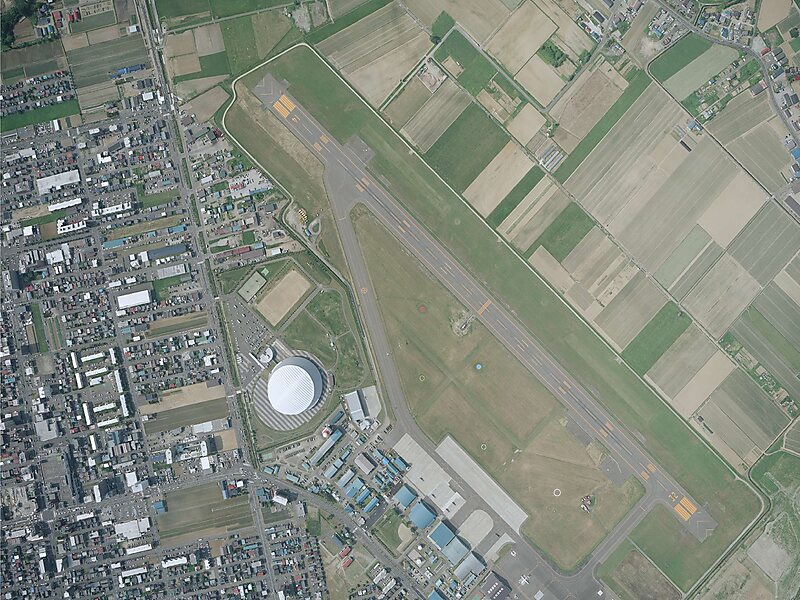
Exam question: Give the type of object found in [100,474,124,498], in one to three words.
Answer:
building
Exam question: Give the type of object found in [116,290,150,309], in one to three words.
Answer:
building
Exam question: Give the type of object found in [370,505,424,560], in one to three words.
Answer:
baseball field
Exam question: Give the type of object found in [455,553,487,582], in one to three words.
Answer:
hangar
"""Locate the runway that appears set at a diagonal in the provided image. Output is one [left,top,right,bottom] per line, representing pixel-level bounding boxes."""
[252,73,720,543]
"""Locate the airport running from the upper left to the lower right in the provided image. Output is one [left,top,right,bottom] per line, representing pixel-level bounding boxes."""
[224,47,762,600]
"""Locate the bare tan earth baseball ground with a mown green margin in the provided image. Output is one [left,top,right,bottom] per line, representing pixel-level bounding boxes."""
[252,266,315,330]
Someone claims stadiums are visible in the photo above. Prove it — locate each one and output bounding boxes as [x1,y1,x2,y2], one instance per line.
[263,355,322,413]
